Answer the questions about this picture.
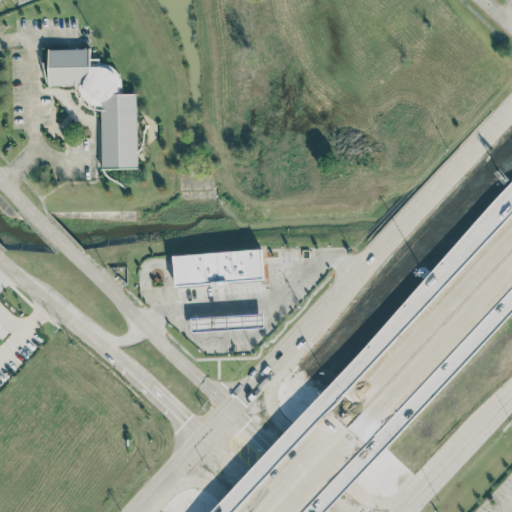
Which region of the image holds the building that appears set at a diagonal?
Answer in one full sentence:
The building that appears set at a diagonal appears toward the top left of the photo.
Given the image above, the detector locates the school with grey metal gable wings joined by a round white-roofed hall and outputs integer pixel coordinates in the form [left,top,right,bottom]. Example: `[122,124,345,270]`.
[46,48,138,169]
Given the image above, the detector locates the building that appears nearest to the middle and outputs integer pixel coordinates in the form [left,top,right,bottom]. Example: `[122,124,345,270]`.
[172,249,264,288]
